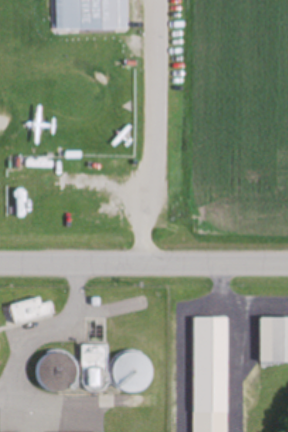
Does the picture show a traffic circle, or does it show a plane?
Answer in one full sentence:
There is a plane in the scene.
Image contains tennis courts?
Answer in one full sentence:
No, I can see no tennis court in this picture.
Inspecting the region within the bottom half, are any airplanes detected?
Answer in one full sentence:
No, there is no airplane within the bottom half.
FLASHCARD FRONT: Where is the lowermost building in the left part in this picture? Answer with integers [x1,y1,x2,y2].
[81,344,109,394]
